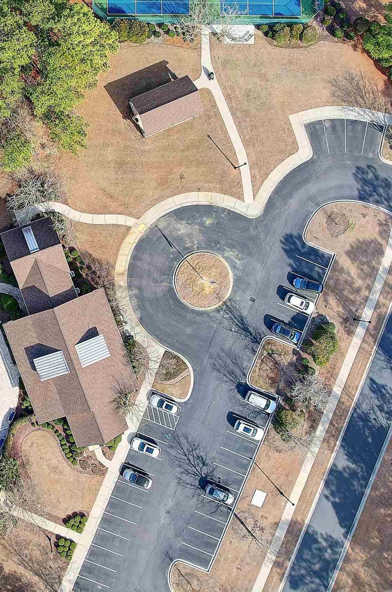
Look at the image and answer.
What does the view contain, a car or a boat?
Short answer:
car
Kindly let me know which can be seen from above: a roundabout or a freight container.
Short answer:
roundabout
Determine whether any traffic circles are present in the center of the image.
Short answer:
Yes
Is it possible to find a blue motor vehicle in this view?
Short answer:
Yes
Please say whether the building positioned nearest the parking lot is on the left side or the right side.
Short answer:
left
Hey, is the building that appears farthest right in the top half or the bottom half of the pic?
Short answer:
top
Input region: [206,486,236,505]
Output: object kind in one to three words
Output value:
car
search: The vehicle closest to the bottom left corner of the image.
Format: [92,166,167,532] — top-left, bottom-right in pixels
[124,470,154,490]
